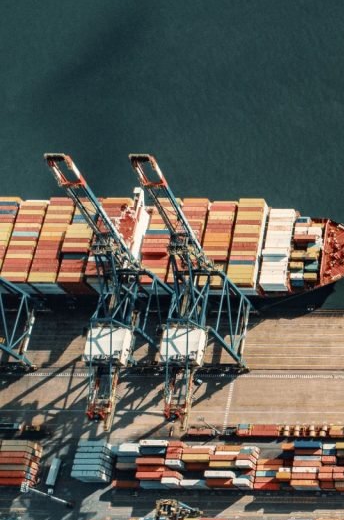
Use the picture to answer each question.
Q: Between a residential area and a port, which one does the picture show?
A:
port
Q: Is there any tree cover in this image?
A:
No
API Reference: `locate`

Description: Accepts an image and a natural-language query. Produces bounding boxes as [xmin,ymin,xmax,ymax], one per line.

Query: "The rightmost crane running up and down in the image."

[131,154,267,429]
